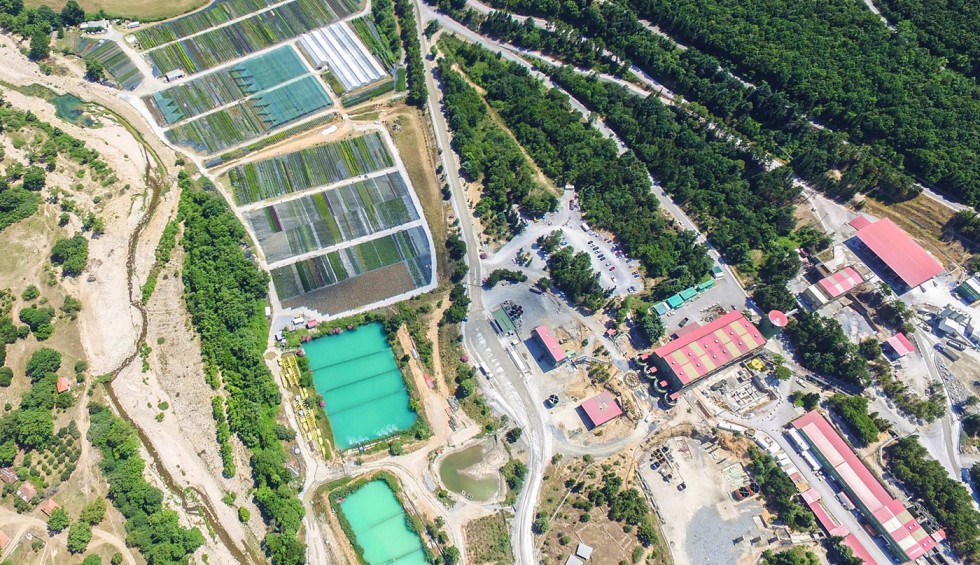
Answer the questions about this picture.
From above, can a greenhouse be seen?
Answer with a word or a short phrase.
Yes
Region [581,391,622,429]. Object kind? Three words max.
shed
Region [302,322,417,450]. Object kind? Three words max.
pond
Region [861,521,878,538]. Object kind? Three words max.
vehicle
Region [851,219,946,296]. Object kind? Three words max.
building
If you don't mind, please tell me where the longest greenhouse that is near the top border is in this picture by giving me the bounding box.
[300,20,388,93]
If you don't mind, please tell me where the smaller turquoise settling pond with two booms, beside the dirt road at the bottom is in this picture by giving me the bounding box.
[341,479,427,565]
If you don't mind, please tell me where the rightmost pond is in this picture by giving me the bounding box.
[441,446,499,502]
